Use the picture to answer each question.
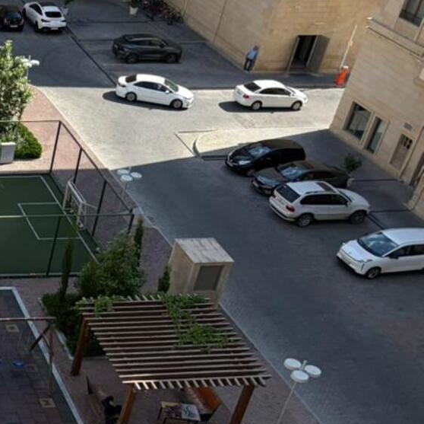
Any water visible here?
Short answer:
No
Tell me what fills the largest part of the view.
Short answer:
paved ground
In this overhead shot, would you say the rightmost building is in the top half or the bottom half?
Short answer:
top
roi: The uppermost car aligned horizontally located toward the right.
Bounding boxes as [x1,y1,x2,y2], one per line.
[233,77,312,109]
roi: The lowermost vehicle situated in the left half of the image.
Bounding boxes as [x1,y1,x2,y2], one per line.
[118,71,198,108]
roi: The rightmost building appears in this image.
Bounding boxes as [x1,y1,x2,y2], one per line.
[329,0,424,214]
